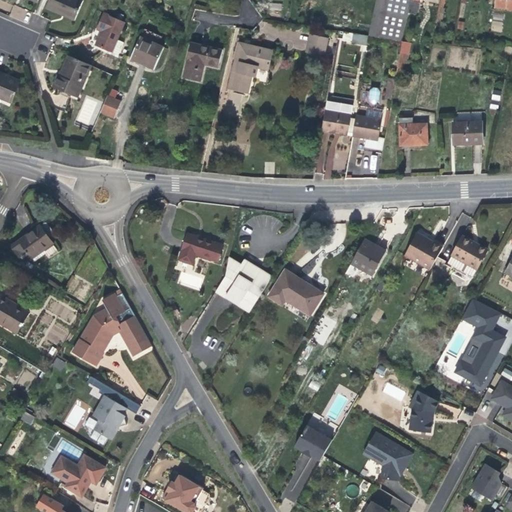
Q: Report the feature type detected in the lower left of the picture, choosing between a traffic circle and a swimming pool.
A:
swimming pool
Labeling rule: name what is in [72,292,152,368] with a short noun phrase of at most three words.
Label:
house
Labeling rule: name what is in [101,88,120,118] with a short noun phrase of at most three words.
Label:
shed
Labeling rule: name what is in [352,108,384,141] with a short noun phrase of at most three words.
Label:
house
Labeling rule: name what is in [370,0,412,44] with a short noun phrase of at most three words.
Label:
building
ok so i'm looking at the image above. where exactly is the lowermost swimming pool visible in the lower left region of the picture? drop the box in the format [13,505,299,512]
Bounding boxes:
[56,436,84,463]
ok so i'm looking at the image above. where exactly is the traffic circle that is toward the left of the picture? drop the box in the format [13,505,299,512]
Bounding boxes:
[55,166,142,250]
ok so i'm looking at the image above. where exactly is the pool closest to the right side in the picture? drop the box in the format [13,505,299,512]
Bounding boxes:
[448,332,467,355]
